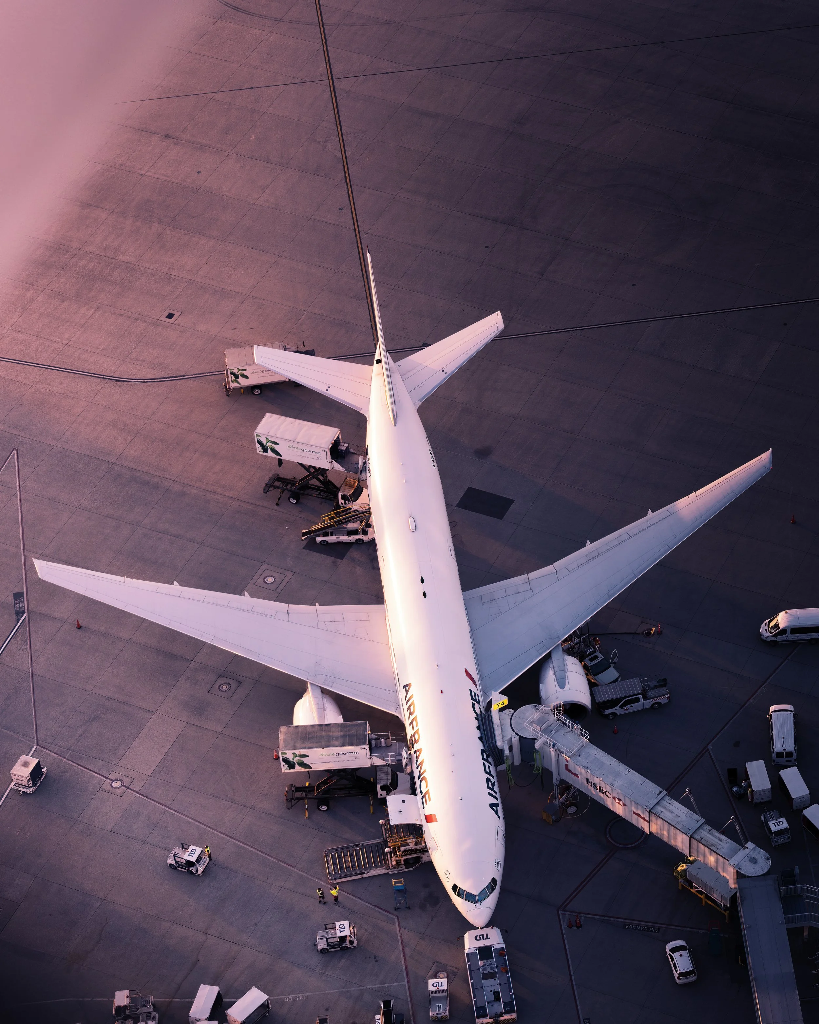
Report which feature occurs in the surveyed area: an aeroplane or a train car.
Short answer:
aeroplane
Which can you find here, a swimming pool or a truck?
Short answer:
truck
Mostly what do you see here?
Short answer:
paved ground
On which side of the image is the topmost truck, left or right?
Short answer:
left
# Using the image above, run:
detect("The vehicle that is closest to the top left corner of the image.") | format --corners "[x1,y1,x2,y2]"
[221,335,323,395]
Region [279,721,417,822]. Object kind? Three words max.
truck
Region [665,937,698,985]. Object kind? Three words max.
car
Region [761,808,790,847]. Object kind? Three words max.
work vehicle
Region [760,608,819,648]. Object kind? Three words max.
van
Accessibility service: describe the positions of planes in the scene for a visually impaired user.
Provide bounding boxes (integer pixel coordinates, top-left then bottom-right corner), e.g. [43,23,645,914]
[34,245,773,931]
